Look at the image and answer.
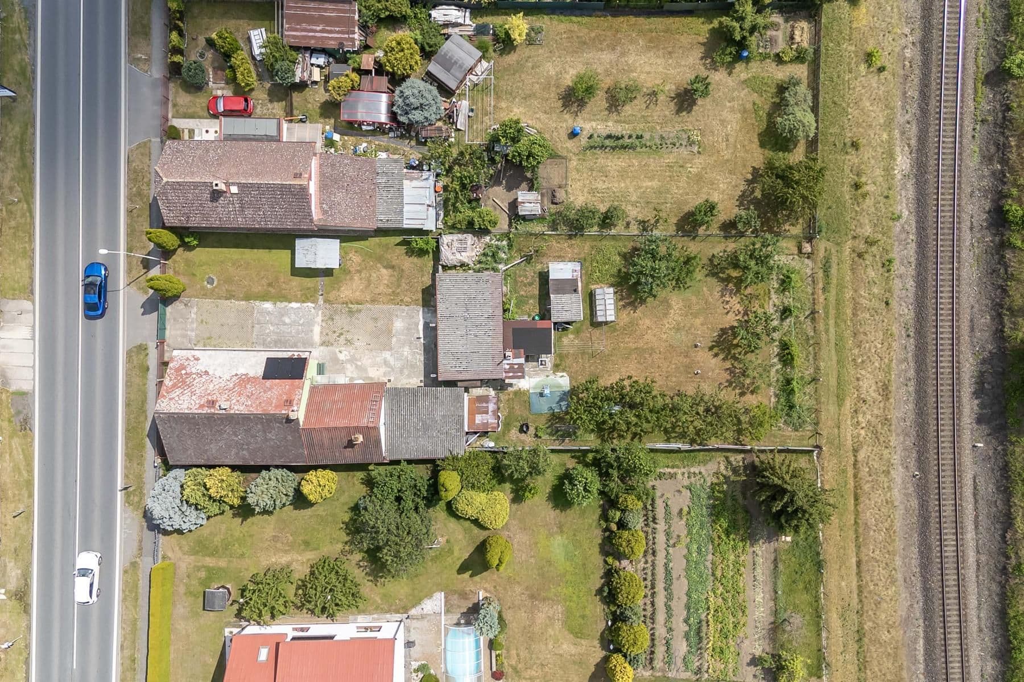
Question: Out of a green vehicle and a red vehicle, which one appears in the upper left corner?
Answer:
red vehicle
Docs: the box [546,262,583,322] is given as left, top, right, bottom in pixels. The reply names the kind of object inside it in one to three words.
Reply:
shed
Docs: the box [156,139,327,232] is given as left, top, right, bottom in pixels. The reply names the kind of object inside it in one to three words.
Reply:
house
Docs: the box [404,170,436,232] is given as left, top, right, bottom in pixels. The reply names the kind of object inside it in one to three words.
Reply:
shed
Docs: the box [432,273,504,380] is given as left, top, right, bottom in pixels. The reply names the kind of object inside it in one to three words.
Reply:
building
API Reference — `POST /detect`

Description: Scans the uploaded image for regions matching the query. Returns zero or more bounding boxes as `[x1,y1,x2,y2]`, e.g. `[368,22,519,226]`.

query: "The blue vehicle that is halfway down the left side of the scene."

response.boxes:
[80,263,110,318]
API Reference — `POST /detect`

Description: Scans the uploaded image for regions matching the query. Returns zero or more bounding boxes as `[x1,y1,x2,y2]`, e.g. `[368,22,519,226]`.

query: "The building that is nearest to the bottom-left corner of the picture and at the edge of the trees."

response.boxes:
[201,590,227,611]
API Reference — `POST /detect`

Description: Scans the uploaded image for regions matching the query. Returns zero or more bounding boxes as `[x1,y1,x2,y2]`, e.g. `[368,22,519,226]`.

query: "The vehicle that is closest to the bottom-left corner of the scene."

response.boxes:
[73,550,103,604]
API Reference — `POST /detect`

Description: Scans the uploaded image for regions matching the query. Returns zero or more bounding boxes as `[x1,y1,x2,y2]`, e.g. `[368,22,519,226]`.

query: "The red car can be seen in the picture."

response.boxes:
[209,92,255,117]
